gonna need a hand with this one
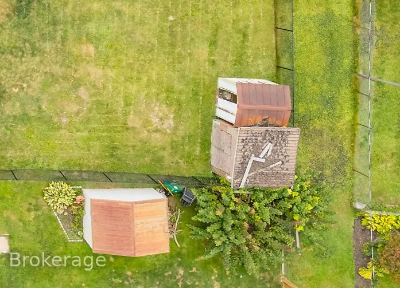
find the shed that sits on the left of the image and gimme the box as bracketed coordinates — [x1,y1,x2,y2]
[84,188,169,262]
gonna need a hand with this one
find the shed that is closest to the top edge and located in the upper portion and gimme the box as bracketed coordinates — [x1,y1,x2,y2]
[216,77,297,128]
